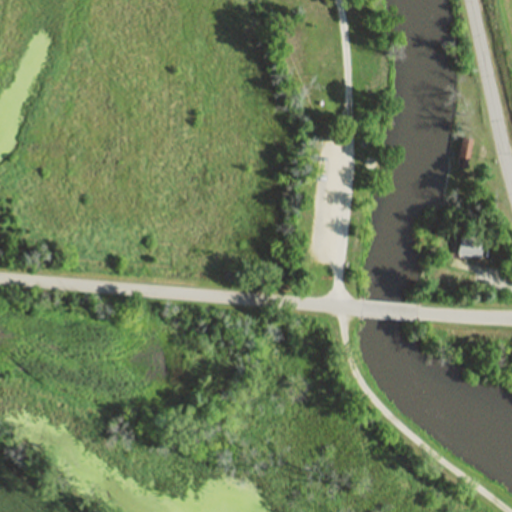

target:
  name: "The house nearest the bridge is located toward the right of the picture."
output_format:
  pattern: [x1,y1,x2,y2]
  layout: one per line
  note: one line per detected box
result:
[459,234,484,258]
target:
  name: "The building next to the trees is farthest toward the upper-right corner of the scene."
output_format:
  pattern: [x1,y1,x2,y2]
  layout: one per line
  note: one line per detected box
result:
[460,136,475,168]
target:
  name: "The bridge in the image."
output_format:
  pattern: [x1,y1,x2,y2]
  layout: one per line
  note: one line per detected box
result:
[361,300,420,322]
